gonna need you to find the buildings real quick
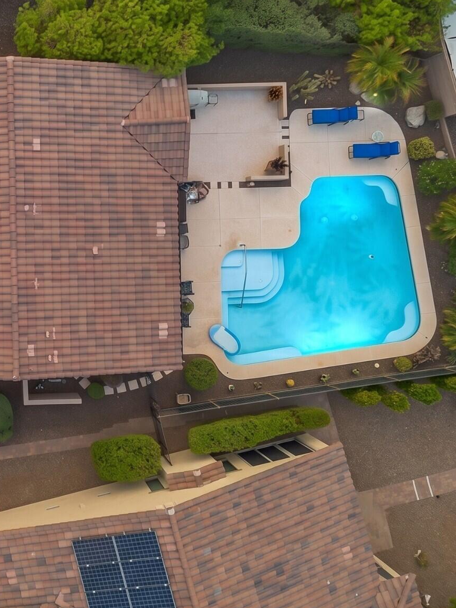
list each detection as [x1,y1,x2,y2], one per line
[0,431,433,608]
[0,54,192,385]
